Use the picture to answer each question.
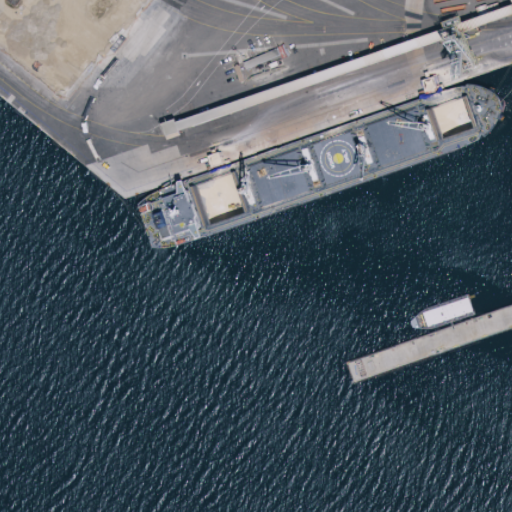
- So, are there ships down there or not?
Yes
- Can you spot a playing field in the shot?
No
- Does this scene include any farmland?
No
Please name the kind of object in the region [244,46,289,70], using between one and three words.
building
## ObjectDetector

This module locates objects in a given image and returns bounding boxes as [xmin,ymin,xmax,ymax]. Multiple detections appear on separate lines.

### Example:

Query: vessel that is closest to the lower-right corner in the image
[410,294,476,328]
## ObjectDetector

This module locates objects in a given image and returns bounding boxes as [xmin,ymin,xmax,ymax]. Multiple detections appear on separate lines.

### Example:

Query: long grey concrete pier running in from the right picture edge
[347,304,512,382]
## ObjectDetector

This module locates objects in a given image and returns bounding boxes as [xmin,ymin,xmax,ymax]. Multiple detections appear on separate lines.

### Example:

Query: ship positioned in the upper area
[138,84,502,248]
